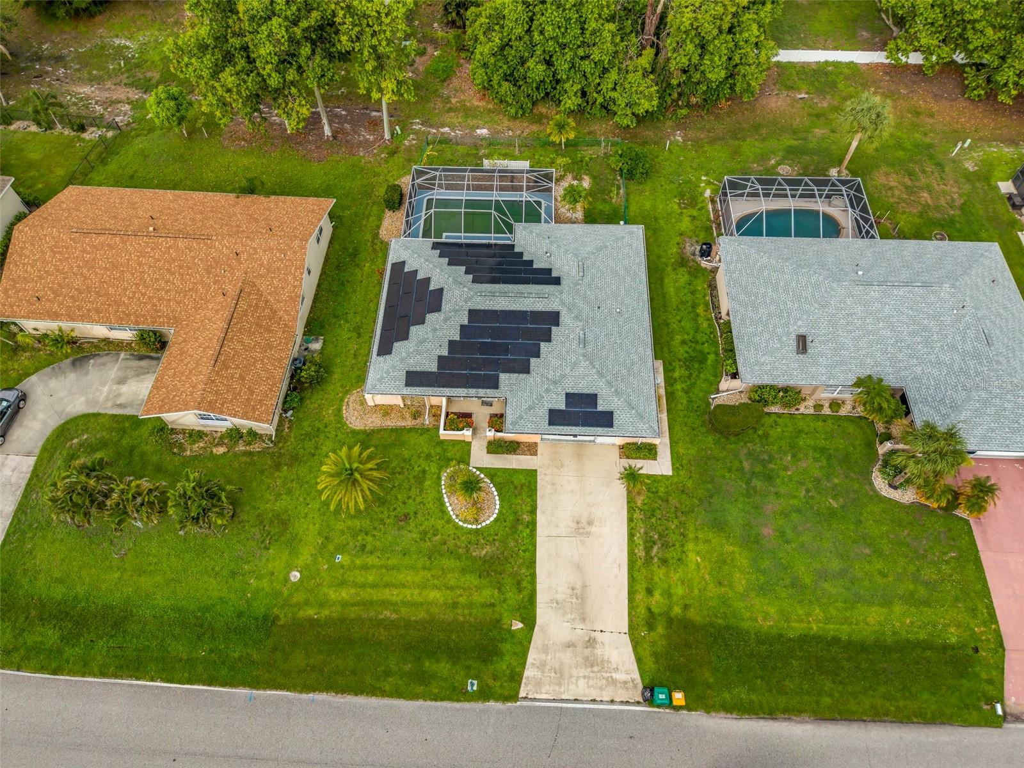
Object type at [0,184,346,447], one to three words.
house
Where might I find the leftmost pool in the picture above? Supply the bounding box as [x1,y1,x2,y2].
[412,190,552,242]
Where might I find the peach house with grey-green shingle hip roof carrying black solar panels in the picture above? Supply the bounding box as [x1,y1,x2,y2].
[362,222,663,446]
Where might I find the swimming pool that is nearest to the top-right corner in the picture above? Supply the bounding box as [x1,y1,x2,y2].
[731,201,856,239]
